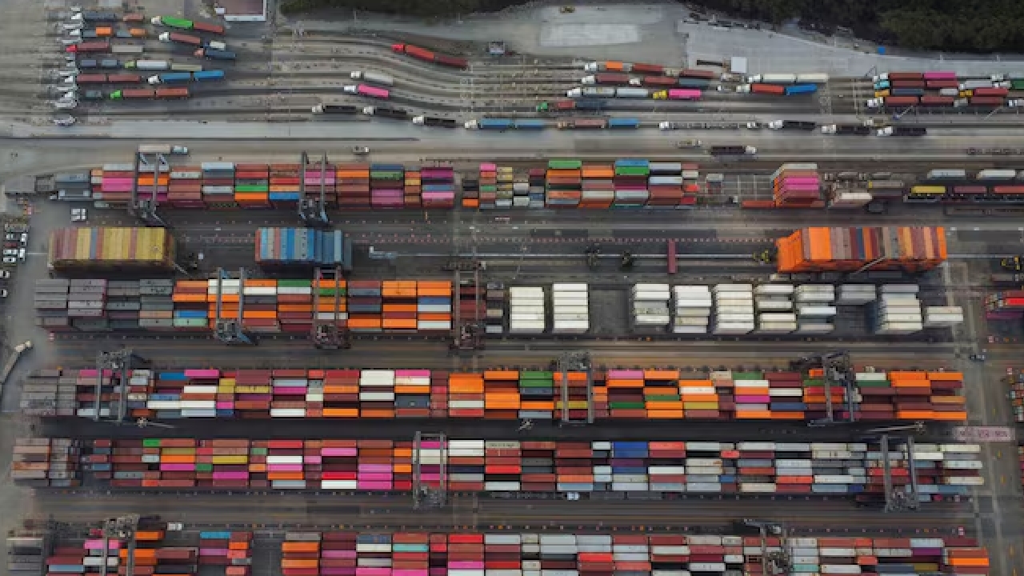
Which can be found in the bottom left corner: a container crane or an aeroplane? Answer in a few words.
container crane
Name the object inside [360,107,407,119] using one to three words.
vehicle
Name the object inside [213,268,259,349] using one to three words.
container crane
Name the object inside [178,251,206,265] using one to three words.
work vehicle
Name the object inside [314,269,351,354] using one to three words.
container crane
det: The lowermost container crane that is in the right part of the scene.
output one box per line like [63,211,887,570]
[729,518,791,576]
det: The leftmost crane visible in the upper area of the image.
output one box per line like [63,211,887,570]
[131,151,181,234]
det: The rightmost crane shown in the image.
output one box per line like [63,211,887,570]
[846,437,922,511]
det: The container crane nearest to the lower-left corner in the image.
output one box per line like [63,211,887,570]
[100,513,162,576]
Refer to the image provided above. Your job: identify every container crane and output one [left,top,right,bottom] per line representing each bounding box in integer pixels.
[846,437,922,511]
[301,151,333,231]
[413,433,449,508]
[91,351,153,423]
[550,353,594,425]
[131,151,181,234]
[100,513,162,576]
[729,518,791,576]
[213,268,259,349]
[796,352,868,424]
[314,269,351,354]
